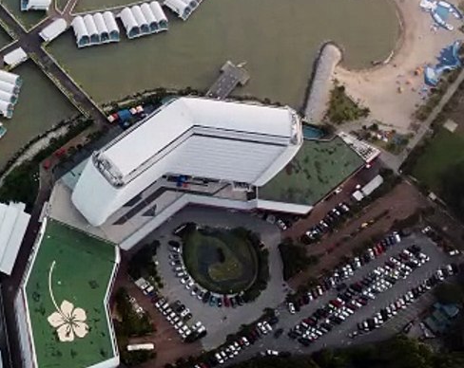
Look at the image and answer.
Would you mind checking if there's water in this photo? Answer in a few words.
Yes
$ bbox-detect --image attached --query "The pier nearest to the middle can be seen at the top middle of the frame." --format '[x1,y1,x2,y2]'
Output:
[207,60,249,100]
